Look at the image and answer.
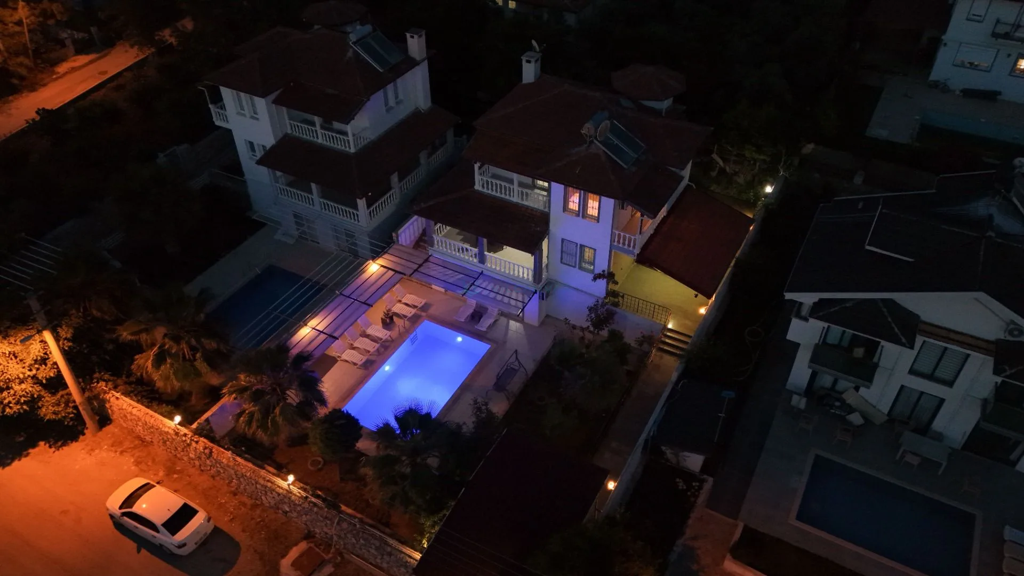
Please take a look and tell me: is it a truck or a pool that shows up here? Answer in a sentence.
There is a pool in the scene.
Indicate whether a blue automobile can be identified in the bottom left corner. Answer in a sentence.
No, looking in the bottom left corner, there is no blue automobile.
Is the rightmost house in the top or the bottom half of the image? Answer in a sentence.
It is in the top half that the rightmost house appears.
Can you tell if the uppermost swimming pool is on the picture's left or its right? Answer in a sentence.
You can find the uppermost swimming pool on the right side of the picture.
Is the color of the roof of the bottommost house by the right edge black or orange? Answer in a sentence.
The roof of the bottommost house by the right edge looks black in the image.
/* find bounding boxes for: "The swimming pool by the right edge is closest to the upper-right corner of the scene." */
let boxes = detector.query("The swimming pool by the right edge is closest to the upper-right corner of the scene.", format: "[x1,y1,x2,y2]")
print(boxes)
[913,109,1024,166]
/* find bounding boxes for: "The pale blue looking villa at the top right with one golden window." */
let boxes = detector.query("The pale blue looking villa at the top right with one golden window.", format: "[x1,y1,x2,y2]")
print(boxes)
[927,0,1024,102]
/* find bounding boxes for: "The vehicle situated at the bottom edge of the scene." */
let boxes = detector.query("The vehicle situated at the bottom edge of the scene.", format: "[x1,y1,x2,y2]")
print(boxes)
[109,477,212,552]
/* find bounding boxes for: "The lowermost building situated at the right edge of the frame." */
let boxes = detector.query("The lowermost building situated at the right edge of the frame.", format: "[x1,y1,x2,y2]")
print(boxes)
[782,173,1024,468]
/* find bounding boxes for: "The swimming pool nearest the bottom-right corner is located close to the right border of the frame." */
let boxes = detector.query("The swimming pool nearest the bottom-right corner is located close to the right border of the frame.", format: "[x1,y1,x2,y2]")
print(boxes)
[796,455,977,576]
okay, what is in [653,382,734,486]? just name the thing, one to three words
shed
